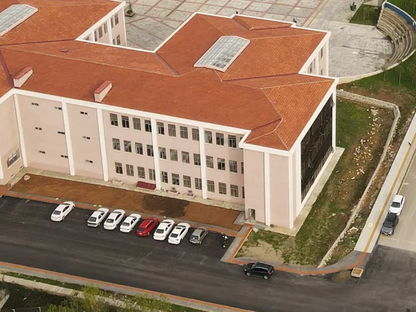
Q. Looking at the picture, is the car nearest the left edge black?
No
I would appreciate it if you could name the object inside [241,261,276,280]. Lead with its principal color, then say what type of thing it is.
black car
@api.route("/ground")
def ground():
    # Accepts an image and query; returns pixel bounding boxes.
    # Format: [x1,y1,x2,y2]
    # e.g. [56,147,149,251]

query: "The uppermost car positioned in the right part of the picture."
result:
[389,192,406,213]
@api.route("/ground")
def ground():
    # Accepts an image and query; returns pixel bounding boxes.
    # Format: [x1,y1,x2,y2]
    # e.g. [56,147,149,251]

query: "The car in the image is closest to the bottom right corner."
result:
[381,210,399,235]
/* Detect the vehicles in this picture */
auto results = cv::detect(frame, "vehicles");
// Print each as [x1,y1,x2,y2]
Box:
[185,224,209,244]
[389,192,406,213]
[381,210,399,235]
[48,200,75,220]
[241,261,276,280]
[117,210,143,231]
[222,231,228,243]
[167,220,192,243]
[101,208,127,229]
[135,214,159,236]
[151,217,177,239]
[85,205,110,226]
